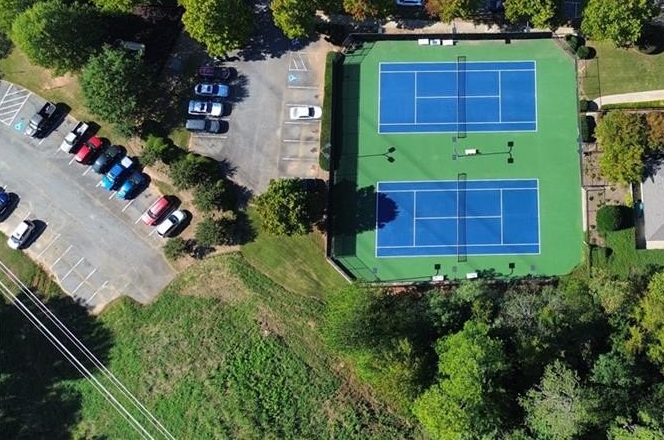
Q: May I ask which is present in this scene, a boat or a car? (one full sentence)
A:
Visible in the photo is a car.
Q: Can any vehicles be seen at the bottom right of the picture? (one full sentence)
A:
No, looking at the bottom right of the picture, there is no vehicle.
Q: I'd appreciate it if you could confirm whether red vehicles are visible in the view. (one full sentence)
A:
Yes, there's a red vehicle here.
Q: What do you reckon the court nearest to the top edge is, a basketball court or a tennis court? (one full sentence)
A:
The court nearest to the top edge is a tennis court.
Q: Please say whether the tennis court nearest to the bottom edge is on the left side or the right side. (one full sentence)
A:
The tennis court nearest to the bottom edge is on the right side of the image.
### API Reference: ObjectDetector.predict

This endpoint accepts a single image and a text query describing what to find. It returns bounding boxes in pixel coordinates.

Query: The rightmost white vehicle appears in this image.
[290,105,320,121]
